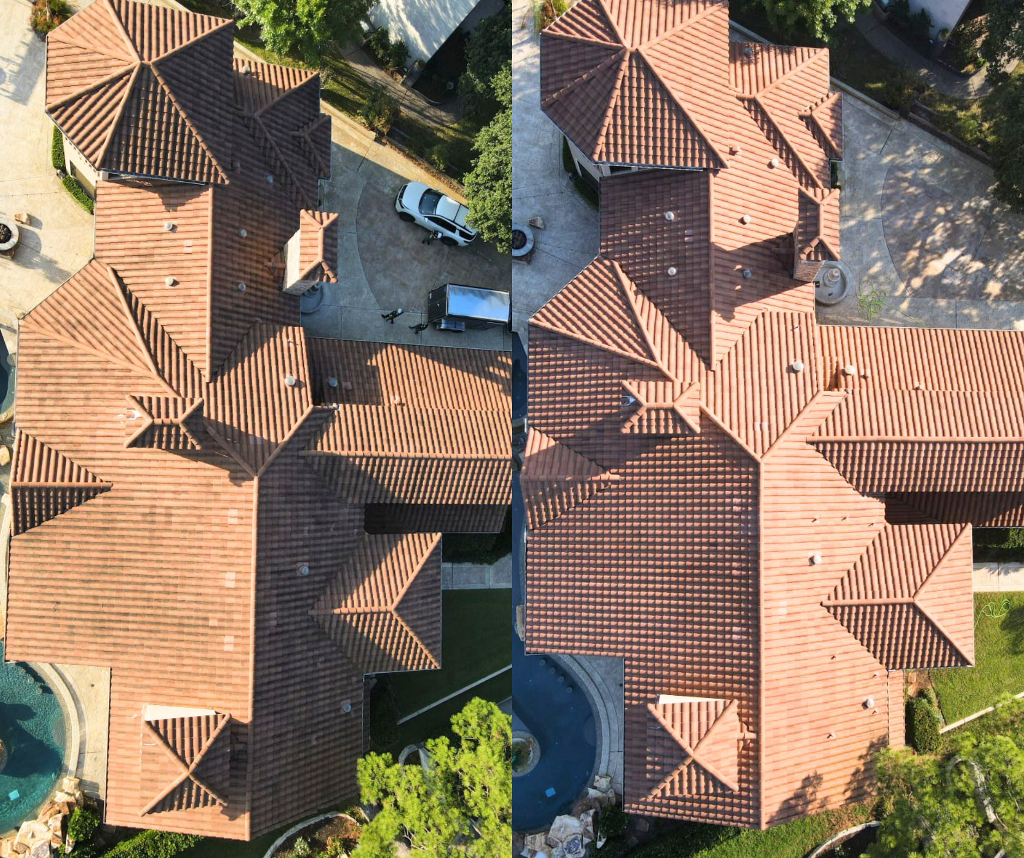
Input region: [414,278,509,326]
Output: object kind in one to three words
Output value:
trailer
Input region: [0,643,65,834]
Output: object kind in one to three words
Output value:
swimming pool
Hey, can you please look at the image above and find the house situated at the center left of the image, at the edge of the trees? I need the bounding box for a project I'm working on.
[3,0,514,843]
